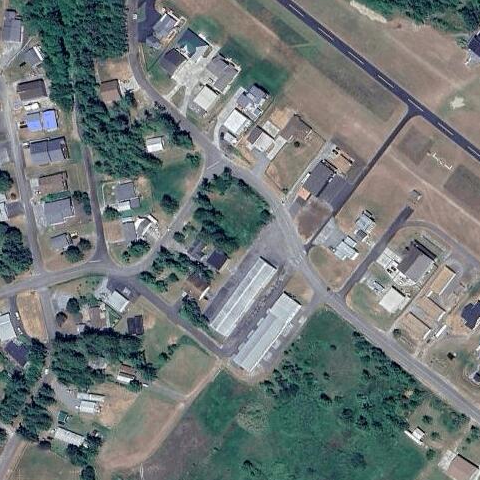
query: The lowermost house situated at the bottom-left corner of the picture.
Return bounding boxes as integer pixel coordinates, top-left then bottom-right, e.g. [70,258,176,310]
[55,426,86,448]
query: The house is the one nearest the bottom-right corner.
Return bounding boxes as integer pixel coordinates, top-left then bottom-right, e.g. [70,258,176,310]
[447,454,478,480]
